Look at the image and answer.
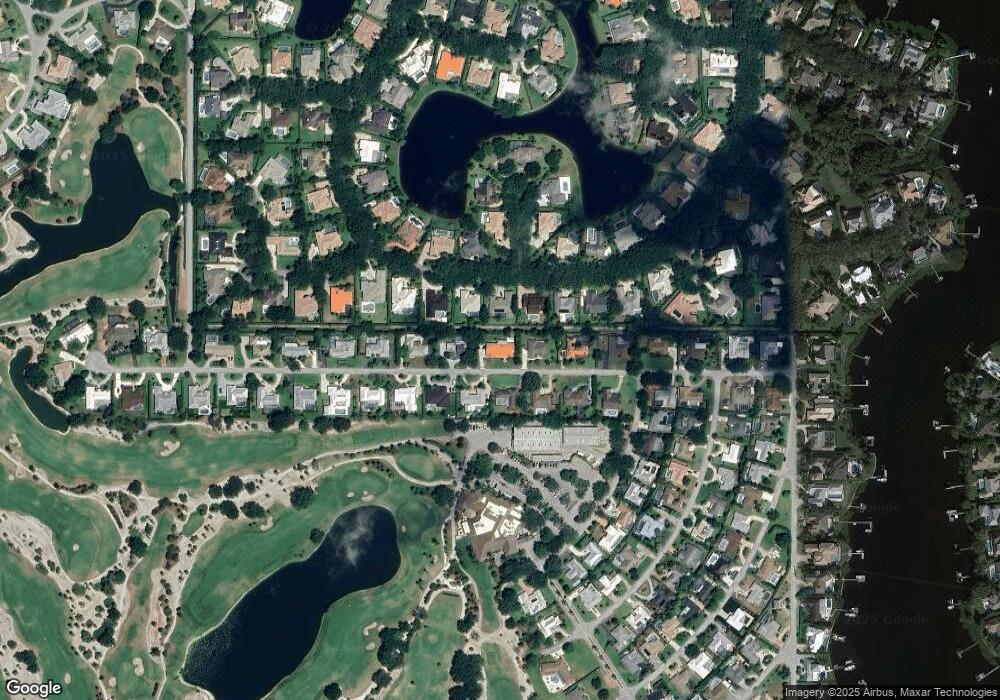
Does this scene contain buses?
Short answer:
No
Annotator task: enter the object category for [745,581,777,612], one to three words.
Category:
house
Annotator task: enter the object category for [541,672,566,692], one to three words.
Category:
swimming pool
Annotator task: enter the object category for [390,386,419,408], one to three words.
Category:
house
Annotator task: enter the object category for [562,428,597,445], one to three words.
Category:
building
